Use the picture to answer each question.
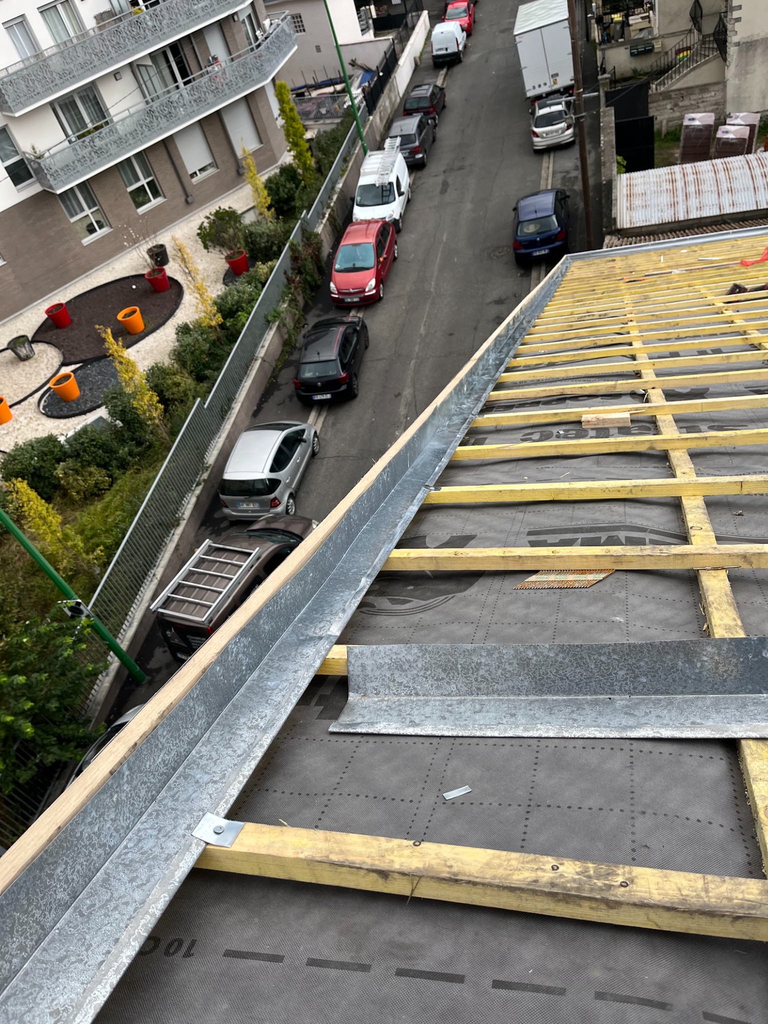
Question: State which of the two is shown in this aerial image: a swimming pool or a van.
van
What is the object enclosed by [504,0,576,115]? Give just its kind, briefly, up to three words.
truck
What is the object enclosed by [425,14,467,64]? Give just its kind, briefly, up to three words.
van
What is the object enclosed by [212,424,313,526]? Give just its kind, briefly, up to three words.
car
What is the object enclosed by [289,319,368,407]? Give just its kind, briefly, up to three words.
car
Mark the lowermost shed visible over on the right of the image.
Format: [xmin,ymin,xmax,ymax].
[618,152,768,236]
